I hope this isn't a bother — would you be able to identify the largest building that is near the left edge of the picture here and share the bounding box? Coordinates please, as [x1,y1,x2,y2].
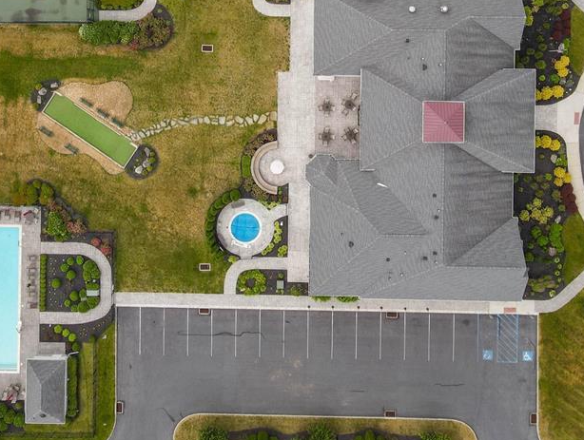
[24,355,70,425]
